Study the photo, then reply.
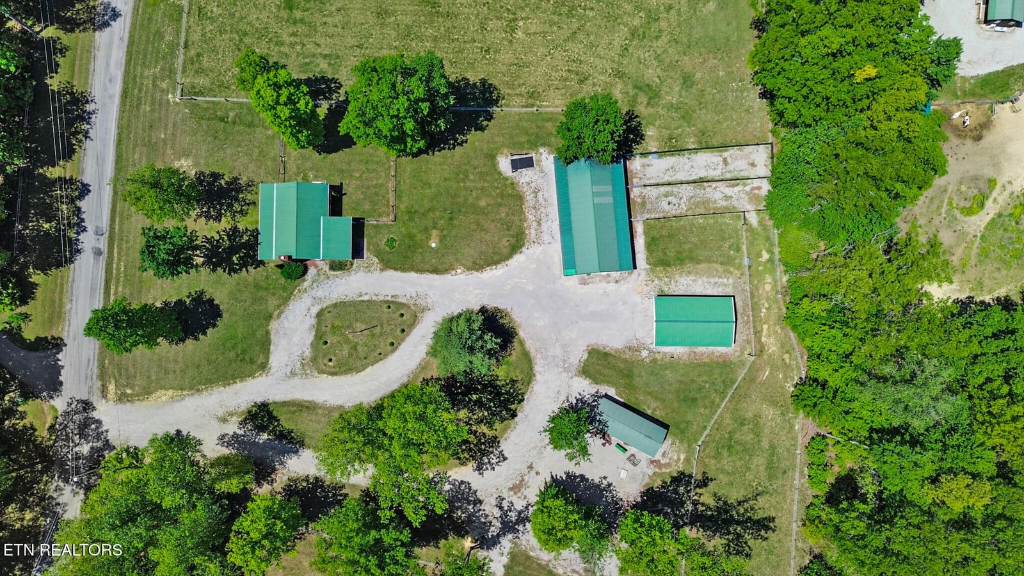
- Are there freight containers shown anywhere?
No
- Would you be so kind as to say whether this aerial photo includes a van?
No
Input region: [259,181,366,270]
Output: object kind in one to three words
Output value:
building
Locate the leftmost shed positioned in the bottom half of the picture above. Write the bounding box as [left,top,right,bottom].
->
[588,398,668,457]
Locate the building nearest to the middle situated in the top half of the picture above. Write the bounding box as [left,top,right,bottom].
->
[554,150,633,276]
